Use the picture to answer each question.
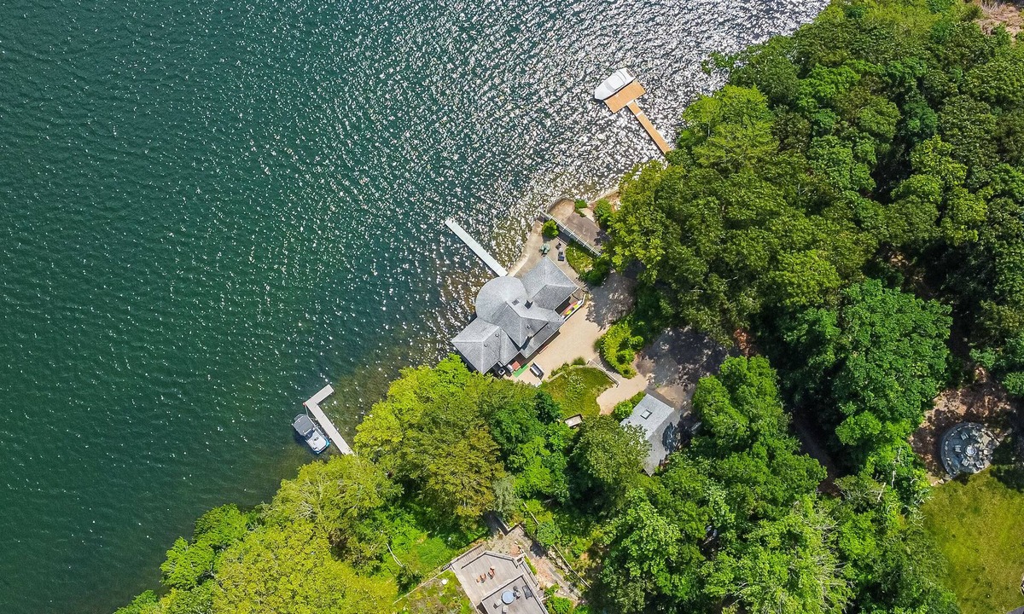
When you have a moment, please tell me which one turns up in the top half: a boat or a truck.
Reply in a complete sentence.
You can see a boat in the top half.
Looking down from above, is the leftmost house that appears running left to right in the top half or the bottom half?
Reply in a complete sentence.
The leftmost house that appears running left to right sits in the bottom half of the picture.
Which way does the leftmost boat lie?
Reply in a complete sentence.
In this picture, the leftmost boat is oriented diagonally.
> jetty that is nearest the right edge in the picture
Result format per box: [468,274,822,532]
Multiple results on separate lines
[604,79,671,159]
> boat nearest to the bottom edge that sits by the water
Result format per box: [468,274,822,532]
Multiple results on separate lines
[290,413,329,453]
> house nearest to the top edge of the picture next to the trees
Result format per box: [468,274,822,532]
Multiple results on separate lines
[450,256,580,375]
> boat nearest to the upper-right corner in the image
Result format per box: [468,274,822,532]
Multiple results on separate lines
[594,69,634,100]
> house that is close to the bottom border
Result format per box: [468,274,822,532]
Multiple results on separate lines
[390,544,554,614]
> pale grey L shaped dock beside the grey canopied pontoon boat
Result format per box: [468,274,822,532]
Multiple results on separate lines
[305,385,352,457]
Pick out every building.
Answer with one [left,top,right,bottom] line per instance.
[450,256,580,375]
[390,544,554,614]
[621,393,686,477]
